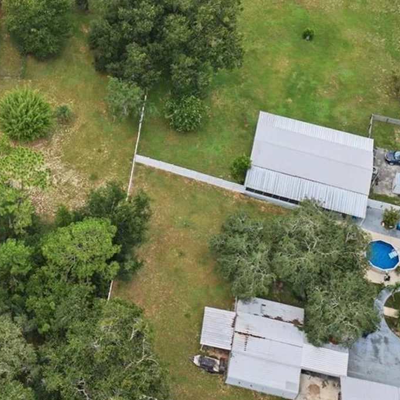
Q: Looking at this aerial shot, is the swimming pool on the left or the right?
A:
right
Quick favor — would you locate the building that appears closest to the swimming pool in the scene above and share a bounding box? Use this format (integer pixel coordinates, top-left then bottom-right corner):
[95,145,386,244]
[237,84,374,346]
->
[245,112,377,238]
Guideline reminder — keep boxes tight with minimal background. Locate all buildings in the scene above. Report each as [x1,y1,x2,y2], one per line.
[245,112,377,238]
[334,377,400,400]
[231,301,304,400]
